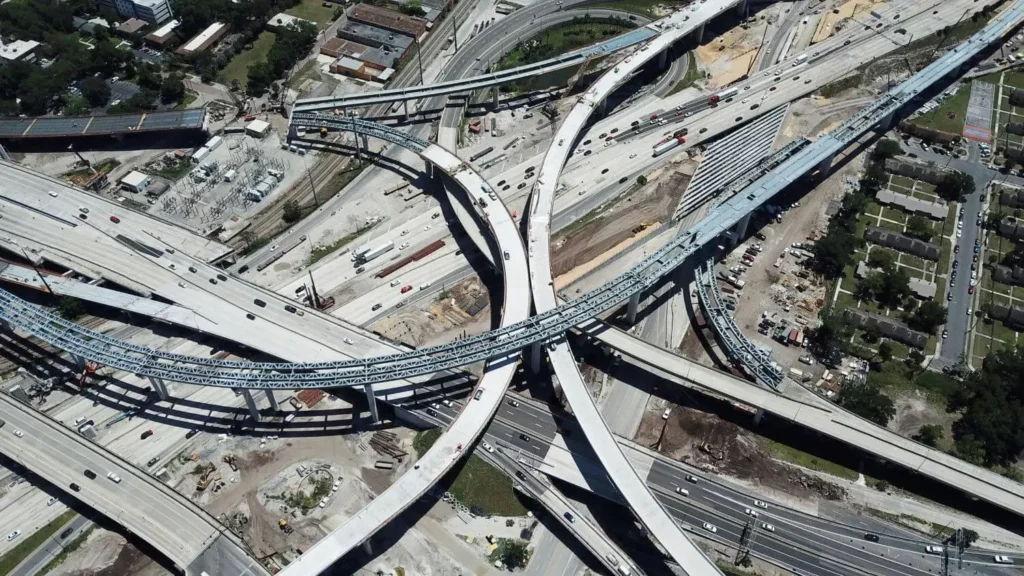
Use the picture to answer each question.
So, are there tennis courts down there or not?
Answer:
No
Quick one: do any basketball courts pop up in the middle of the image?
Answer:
No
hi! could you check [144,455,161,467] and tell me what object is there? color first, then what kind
gray vehicle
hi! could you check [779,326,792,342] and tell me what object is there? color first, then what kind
gray vehicle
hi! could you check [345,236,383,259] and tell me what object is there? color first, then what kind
white truck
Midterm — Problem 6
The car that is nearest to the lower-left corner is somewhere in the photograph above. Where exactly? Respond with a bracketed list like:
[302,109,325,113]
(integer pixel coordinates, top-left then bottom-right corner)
[4,527,23,541]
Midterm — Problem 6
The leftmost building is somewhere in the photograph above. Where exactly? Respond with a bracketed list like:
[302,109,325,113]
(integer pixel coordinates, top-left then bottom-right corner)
[0,37,44,69]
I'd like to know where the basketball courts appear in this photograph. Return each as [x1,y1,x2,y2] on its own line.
[962,122,991,141]
[969,77,995,106]
[965,99,993,129]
